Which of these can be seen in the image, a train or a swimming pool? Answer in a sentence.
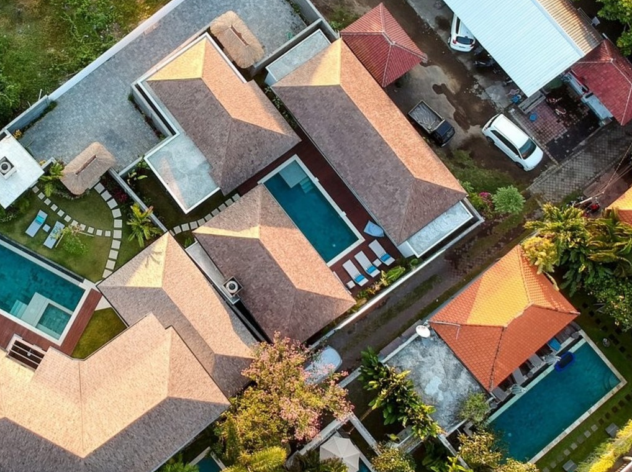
I can see a swimming pool in this picture.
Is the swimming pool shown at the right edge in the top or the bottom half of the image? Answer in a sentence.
It is in the bottom half that the swimming pool shown at the right edge appears.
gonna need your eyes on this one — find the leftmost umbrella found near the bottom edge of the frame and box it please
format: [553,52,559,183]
[317,432,361,472]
